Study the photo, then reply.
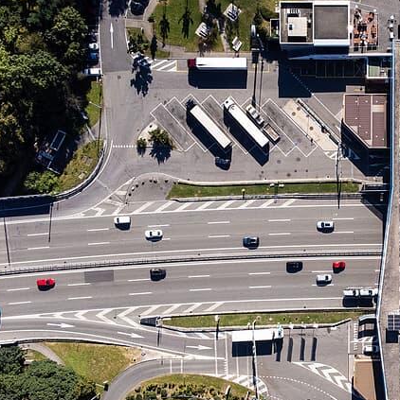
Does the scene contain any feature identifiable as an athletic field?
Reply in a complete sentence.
No, the picture doesn't show any athletic field.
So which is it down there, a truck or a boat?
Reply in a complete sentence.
Looking from above, you can make out a truck.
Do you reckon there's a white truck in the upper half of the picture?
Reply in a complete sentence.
Yes, a white truck can be seen in the upper half of the picture.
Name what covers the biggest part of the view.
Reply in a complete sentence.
The scene is dominated by paved ground.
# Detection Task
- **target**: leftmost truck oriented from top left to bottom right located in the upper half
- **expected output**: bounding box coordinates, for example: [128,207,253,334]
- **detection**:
[186,99,234,151]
